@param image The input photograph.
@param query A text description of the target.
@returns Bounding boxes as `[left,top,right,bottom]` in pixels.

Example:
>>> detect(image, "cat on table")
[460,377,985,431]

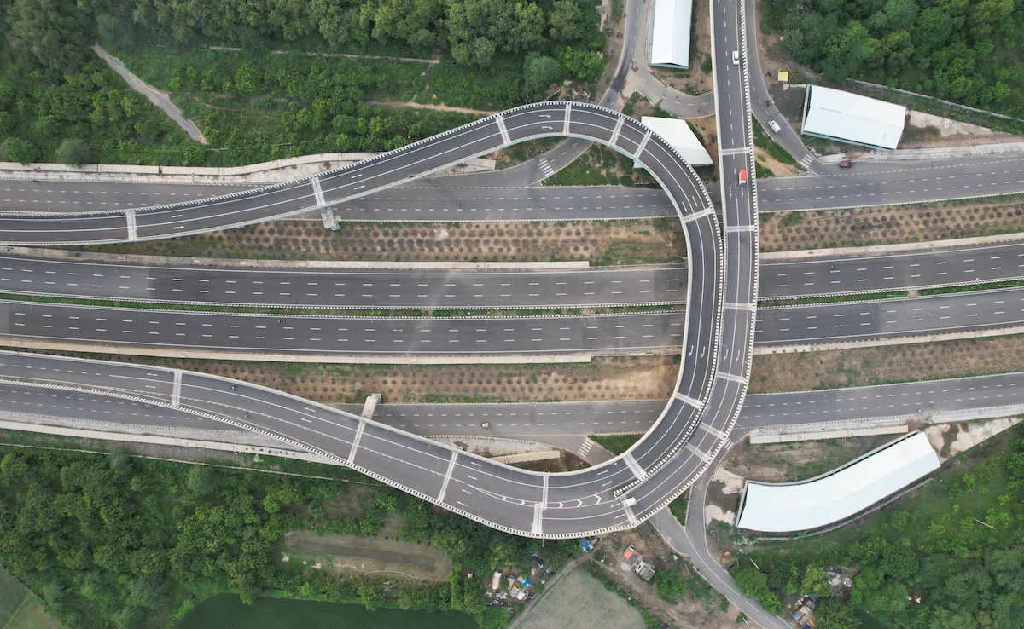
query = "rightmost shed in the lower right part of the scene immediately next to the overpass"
[735,431,940,532]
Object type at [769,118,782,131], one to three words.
vehicle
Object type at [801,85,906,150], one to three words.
shed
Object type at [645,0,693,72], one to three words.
shed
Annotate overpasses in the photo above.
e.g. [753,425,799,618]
[0,0,760,540]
